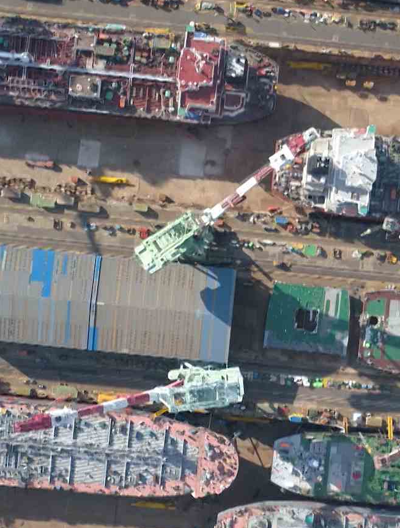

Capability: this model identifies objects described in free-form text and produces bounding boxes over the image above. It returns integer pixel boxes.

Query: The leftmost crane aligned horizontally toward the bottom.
[7,357,249,425]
